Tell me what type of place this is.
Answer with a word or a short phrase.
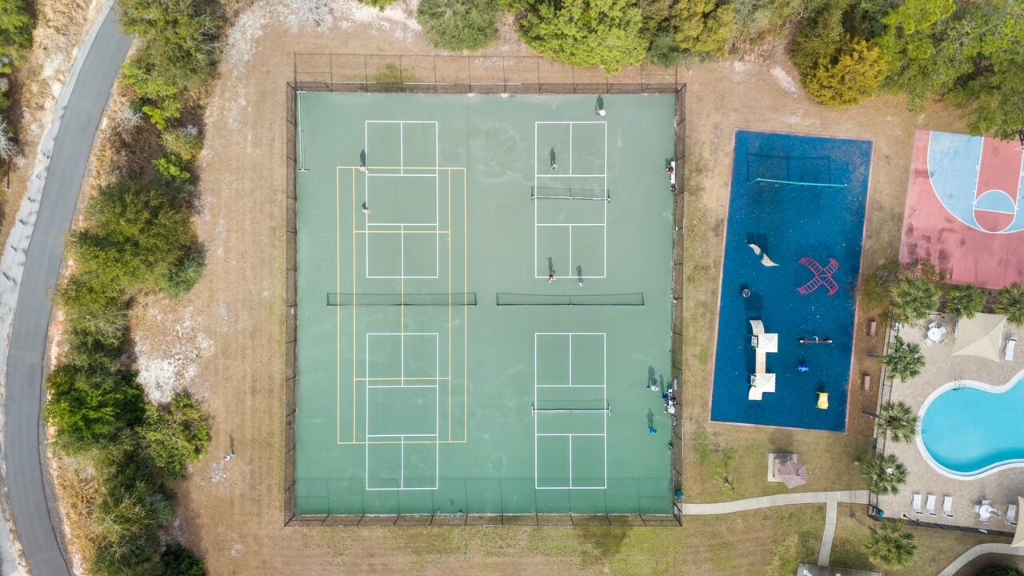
sports ground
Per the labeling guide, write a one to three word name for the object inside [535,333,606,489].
sports court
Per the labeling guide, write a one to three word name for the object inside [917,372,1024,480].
swimming pool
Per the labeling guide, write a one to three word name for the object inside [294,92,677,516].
tennis court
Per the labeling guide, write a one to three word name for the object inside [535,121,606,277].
sports court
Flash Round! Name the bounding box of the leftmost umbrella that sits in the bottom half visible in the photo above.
[778,460,805,487]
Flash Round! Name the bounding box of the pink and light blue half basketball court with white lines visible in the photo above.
[899,129,1024,287]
